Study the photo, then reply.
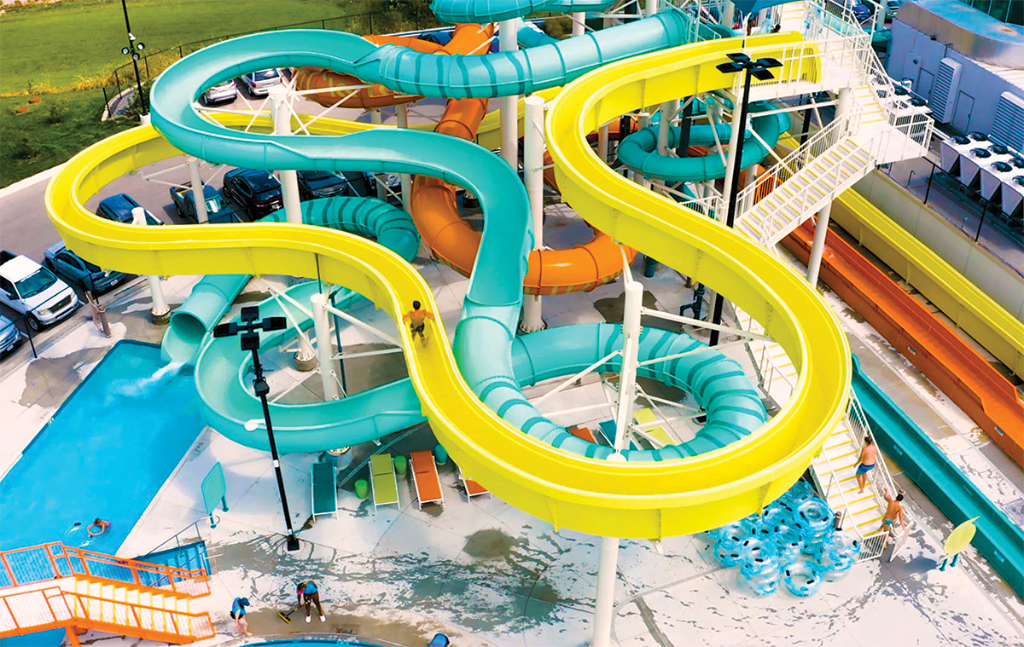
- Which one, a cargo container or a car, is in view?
car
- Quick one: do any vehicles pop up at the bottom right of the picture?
No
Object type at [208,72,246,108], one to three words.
car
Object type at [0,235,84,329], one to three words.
truck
